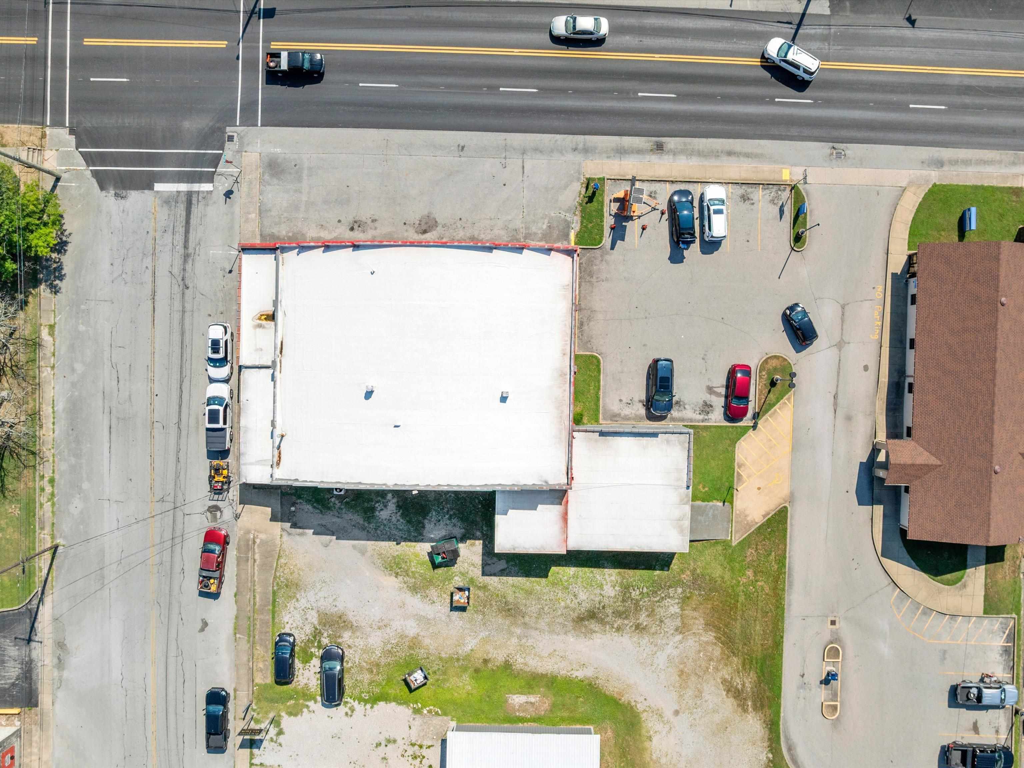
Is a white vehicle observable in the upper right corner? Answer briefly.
Yes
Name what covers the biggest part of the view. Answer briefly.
paved ground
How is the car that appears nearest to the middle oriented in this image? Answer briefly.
up and down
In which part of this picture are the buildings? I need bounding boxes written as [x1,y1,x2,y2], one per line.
[446,725,600,768]
[0,727,23,768]
[236,238,579,493]
[874,240,1024,546]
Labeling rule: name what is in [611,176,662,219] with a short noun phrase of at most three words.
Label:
trailer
